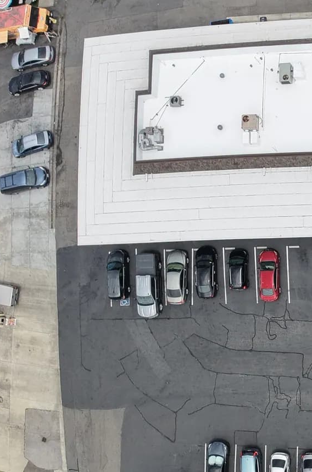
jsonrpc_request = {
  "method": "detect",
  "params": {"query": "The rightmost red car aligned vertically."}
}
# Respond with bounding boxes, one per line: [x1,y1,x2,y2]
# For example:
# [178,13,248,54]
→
[256,248,281,301]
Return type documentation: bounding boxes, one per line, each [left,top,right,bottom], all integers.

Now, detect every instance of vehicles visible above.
[133,250,163,318]
[240,446,262,472]
[269,451,292,472]
[301,451,312,472]
[226,249,250,291]
[204,439,229,472]
[256,248,281,301]
[0,283,25,308]
[0,165,53,194]
[11,46,58,72]
[11,131,58,158]
[103,249,133,300]
[0,5,57,51]
[163,249,190,304]
[193,246,219,298]
[8,71,56,95]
